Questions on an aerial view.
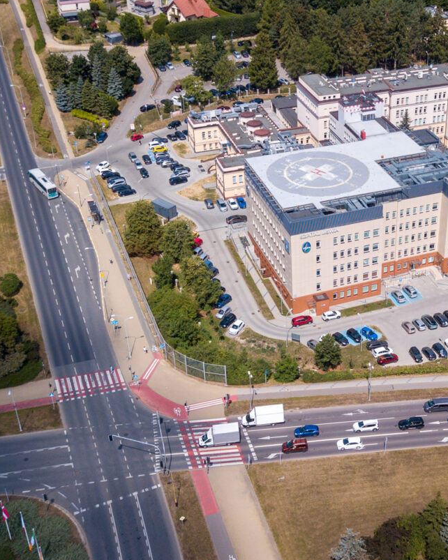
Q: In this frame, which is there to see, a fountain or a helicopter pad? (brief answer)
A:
helicopter pad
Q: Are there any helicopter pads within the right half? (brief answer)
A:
Yes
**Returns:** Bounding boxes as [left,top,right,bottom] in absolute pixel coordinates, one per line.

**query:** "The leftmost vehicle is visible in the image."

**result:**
[32,169,58,196]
